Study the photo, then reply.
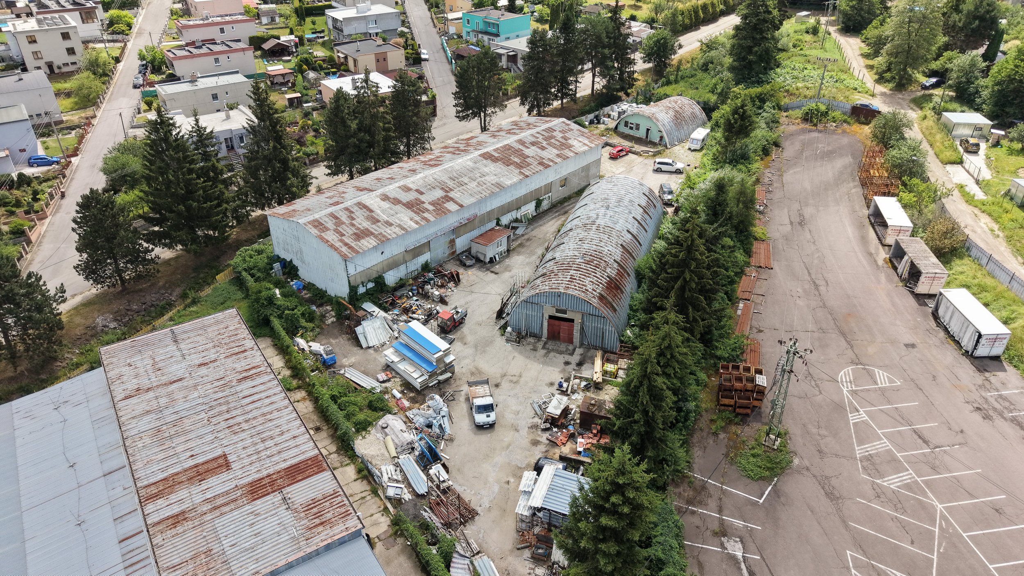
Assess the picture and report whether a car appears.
Yes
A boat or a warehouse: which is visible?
warehouse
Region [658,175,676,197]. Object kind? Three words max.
car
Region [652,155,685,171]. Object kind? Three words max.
car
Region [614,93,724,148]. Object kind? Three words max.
hangar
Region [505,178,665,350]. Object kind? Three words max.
hangar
